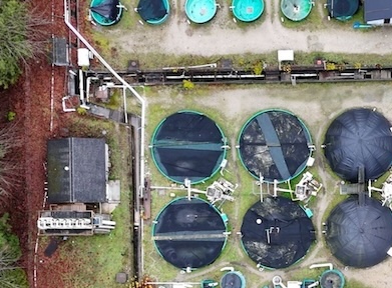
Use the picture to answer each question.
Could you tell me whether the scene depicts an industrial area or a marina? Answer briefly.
industrial area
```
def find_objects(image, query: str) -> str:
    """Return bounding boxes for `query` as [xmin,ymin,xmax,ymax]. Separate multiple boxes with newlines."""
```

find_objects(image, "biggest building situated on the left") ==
[48,136,114,203]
